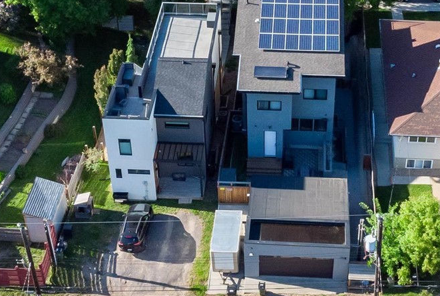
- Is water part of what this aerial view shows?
No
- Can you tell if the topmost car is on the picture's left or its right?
left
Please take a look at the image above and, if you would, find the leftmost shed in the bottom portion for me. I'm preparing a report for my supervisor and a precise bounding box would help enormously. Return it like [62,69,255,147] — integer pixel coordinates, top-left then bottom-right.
[23,177,68,240]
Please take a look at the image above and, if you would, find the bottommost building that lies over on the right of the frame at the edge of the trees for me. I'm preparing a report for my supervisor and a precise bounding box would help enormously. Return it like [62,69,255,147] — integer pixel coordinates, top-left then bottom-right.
[244,177,351,283]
